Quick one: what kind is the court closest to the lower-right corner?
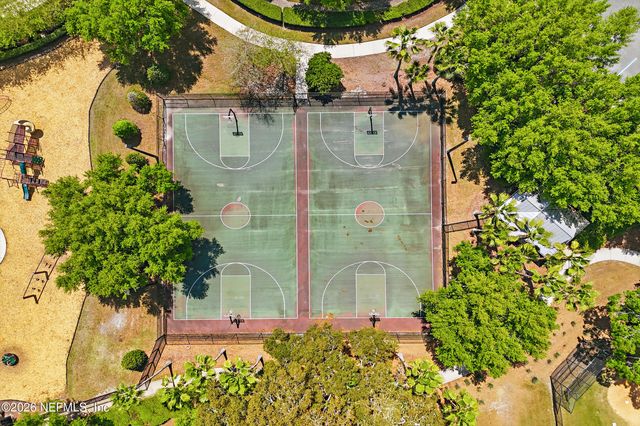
basketball court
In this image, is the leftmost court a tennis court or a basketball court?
basketball court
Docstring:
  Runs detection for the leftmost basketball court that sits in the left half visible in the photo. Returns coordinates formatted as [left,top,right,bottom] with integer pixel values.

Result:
[173,112,298,320]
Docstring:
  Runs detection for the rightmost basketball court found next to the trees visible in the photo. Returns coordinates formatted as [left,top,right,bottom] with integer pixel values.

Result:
[308,112,434,319]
